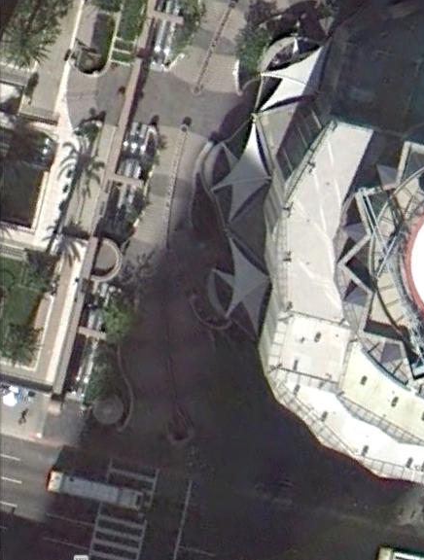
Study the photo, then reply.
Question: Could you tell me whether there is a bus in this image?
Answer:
Yes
